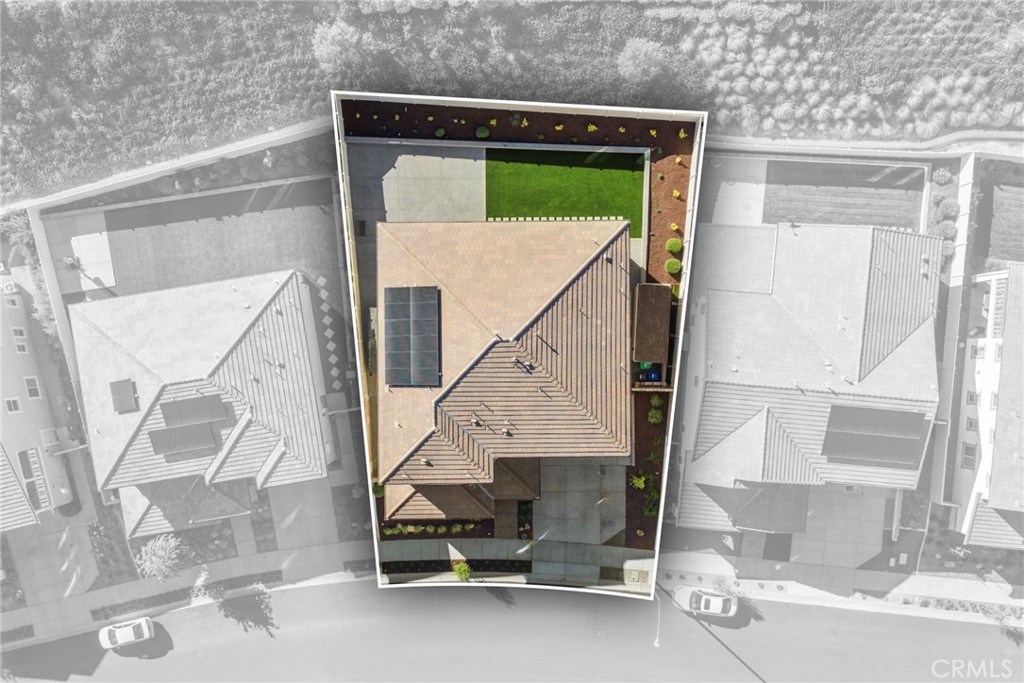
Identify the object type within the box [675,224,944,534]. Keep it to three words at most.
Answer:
house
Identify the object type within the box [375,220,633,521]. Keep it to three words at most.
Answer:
house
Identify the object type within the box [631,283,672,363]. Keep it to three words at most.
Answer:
shed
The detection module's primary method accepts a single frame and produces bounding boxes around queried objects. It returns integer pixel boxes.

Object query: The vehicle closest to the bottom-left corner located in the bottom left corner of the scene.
[94,618,153,655]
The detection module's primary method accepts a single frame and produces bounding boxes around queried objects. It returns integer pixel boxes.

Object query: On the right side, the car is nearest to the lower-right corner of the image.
[676,587,742,621]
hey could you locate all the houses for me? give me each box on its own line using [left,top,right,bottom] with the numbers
[675,224,944,534]
[0,273,72,530]
[953,260,1024,550]
[375,220,633,521]
[66,269,340,540]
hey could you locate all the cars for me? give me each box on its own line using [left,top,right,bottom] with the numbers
[94,618,153,655]
[676,587,742,621]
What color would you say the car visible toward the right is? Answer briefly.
white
